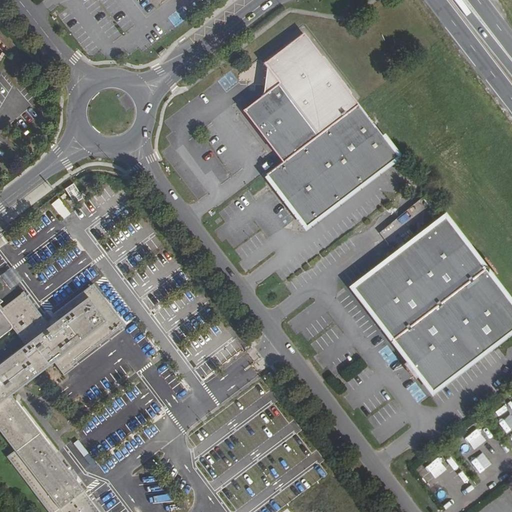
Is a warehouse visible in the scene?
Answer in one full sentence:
Yes, the photo shows a warehouse.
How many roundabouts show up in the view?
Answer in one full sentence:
I count just 1 roundabout.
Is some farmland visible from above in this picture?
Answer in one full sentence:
No, there is no farmland in the image.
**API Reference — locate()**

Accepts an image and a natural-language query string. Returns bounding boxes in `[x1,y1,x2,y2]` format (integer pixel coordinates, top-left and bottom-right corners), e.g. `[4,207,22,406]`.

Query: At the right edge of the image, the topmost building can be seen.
[350,213,512,396]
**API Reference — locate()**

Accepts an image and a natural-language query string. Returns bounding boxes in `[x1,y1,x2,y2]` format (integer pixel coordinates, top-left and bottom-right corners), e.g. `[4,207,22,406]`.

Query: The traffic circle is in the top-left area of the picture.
[64,64,159,158]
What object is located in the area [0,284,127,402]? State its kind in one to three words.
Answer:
building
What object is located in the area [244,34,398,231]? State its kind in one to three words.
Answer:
warehouse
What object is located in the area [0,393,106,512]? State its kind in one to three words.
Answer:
building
